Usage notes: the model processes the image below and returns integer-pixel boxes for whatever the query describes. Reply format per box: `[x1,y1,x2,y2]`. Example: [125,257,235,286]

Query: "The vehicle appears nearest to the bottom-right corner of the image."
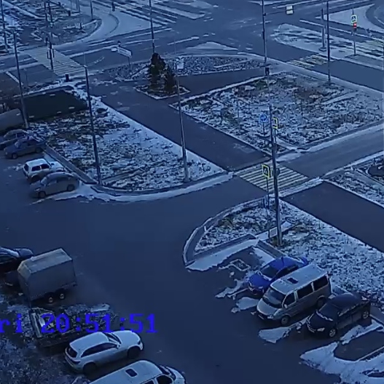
[301,289,376,339]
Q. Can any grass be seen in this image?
Yes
